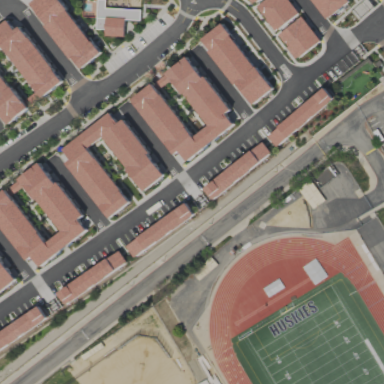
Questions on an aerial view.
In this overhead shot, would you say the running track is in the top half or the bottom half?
bottom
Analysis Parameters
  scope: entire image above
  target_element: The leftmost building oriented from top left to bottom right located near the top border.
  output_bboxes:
[30,0,100,68]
